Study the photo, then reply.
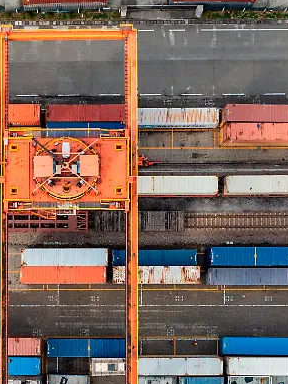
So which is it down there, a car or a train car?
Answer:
train car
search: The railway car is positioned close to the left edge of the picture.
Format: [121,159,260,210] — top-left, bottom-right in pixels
[9,211,93,232]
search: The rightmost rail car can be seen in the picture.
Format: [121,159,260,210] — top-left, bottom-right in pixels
[218,177,288,195]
